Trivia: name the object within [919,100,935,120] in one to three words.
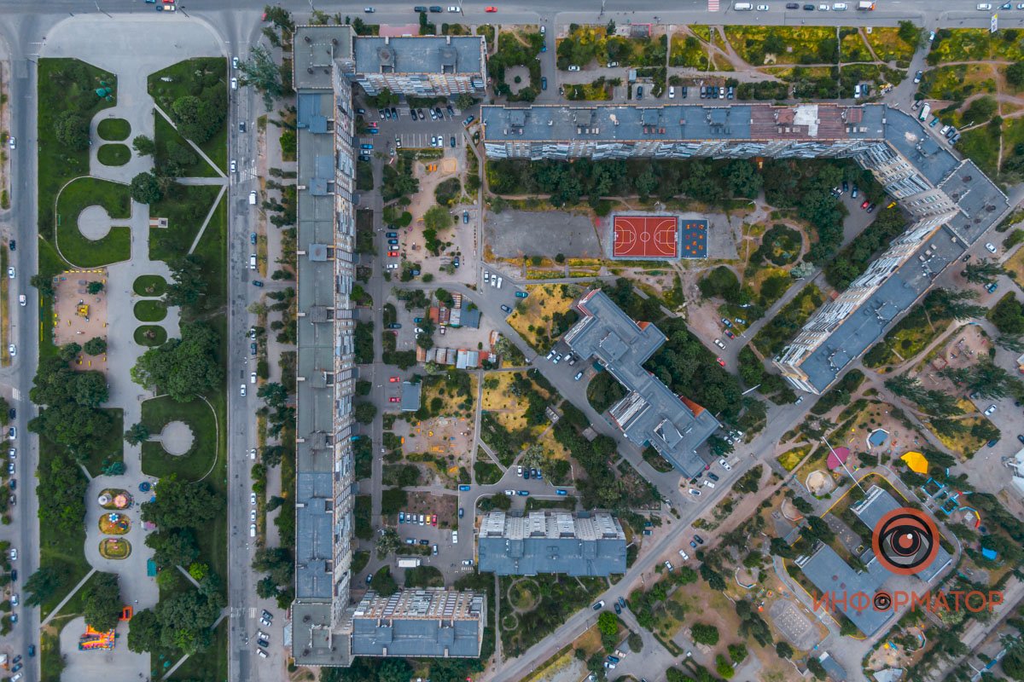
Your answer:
vehicle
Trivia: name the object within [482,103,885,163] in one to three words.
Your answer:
building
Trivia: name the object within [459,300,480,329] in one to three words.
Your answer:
shed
